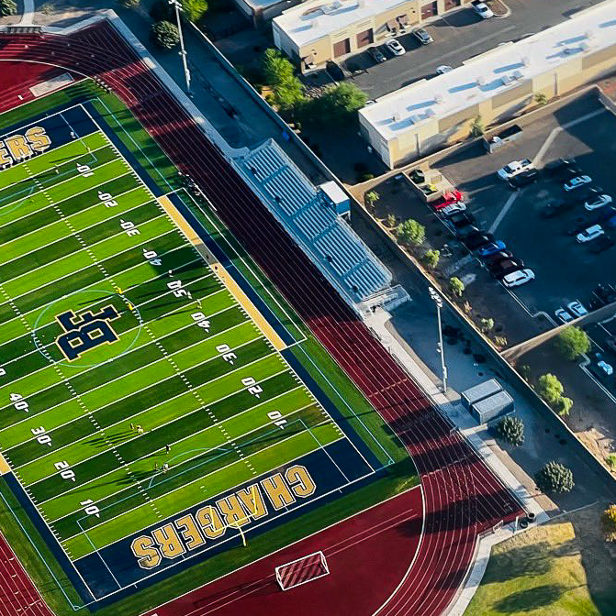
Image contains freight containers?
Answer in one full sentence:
Yes, I can see a freight container in this picture.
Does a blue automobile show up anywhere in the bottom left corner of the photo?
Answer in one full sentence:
No, I can find no blue automobile in the bottom left corner of the photo.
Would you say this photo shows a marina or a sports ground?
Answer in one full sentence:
The picture captures a sports ground.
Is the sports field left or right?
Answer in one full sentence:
The sports field appears in the left half of the scene.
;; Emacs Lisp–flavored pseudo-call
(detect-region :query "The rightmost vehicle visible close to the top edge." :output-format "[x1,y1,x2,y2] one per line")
[471,0,493,21]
